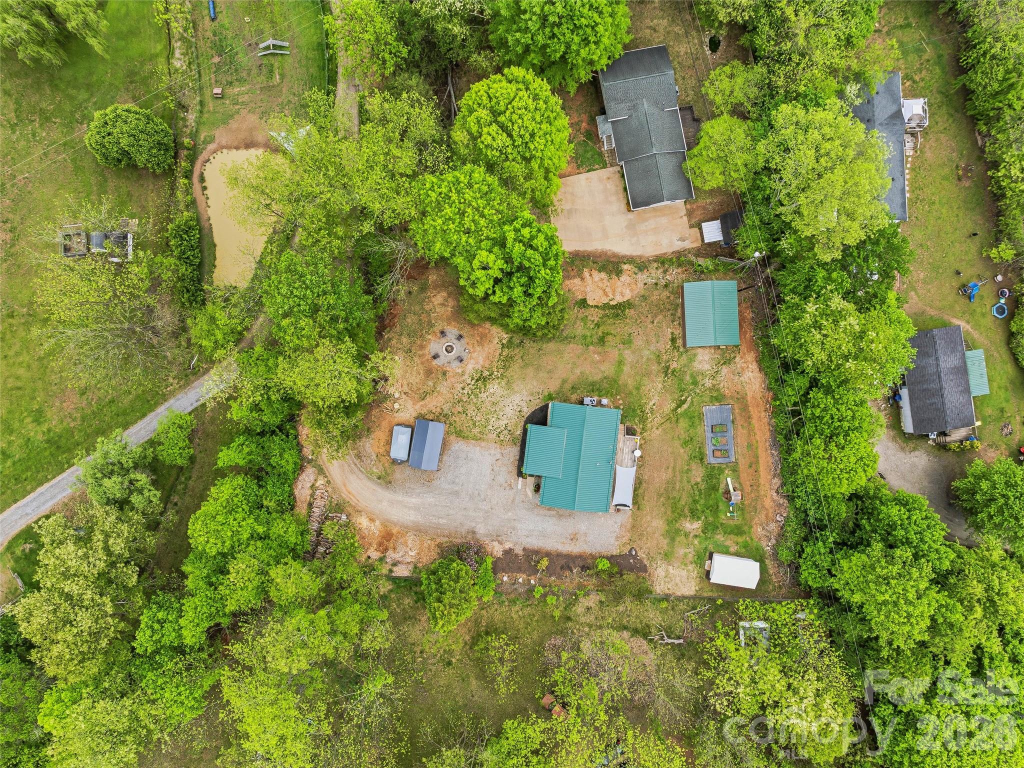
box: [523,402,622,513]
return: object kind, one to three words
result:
house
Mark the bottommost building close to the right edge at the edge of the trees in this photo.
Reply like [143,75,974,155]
[891,325,989,435]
